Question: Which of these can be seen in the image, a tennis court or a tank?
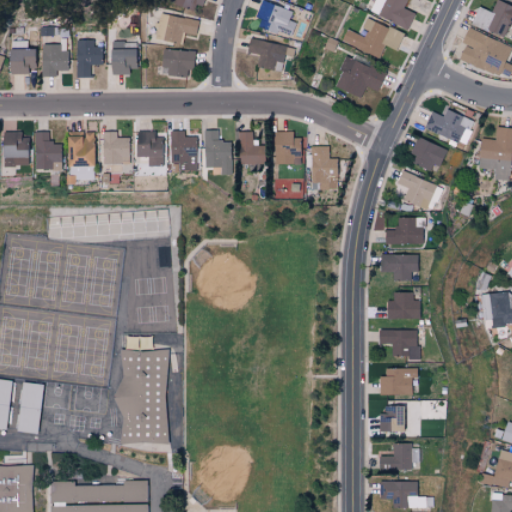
tennis court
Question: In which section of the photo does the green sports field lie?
bottom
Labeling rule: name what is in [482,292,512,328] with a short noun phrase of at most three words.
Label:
house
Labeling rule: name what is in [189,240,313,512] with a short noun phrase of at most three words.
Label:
sports field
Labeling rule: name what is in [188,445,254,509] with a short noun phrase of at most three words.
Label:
baseball field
